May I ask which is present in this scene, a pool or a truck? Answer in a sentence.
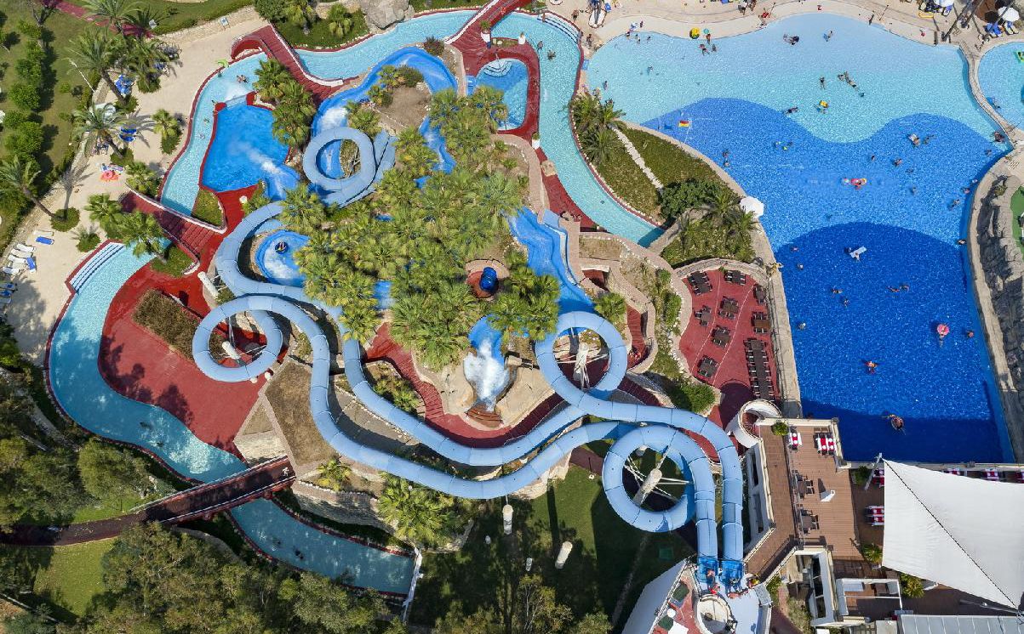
This aerial view contains a pool.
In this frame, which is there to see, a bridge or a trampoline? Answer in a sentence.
Of the two, only a bridge appears.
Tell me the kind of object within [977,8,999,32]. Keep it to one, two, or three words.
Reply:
umbrella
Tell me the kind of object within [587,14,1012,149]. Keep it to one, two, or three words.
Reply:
swimming pool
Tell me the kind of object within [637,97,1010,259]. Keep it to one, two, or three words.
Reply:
swimming pool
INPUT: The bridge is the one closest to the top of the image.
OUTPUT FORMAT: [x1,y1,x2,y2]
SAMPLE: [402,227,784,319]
[444,0,532,47]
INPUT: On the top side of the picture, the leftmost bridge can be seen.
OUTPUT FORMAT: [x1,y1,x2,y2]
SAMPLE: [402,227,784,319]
[121,179,227,272]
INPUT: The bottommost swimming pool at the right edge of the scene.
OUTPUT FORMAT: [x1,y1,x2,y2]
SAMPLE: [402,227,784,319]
[775,222,1002,466]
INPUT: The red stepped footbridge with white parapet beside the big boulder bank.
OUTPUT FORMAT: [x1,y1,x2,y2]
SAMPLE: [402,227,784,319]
[230,22,343,112]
